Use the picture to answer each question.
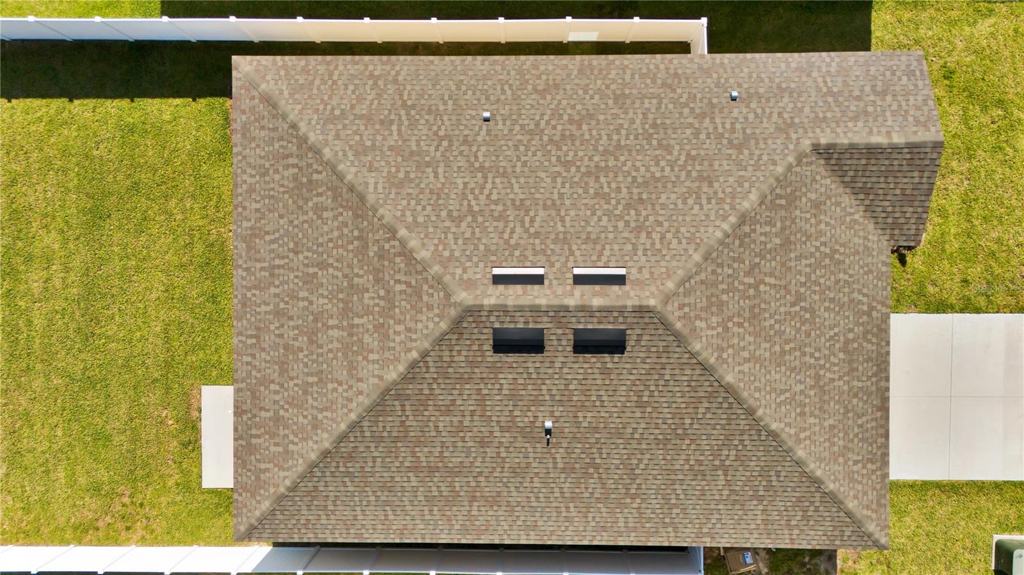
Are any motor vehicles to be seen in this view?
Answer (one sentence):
No, this view has no motor vehicle in it.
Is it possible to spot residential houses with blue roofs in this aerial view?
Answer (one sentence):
No, no residential house with a blue roof is visible in the scene.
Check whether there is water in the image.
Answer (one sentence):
No, there is no water in the image.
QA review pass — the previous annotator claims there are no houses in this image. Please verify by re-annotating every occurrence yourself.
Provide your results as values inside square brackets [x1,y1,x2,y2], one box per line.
[232,51,945,552]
